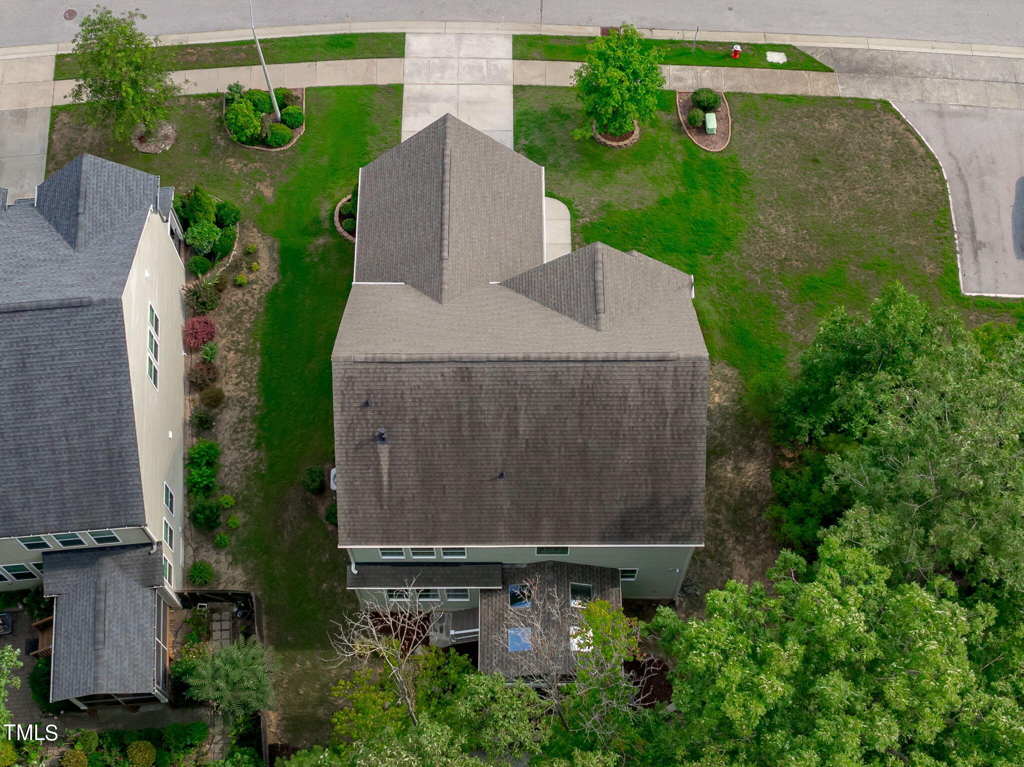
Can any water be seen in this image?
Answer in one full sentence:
No, the scene doesn't show any water.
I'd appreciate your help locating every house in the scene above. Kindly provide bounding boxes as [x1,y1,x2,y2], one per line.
[332,115,713,693]
[0,150,189,713]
